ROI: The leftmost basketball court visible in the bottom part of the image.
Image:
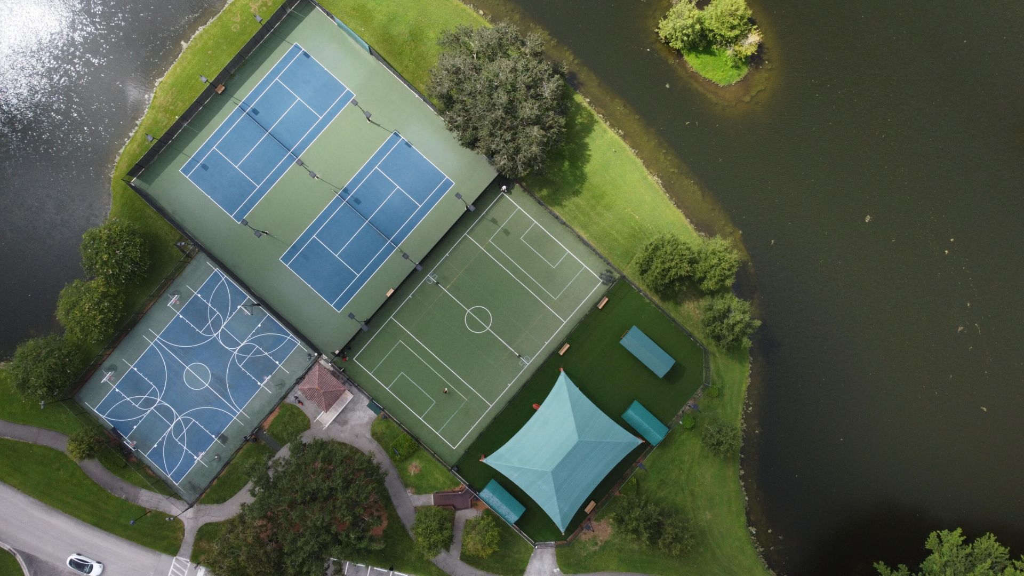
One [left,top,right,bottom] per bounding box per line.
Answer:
[75,251,315,504]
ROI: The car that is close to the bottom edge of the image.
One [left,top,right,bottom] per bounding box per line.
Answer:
[67,554,102,576]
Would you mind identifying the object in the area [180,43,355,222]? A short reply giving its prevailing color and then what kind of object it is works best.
blue tennis court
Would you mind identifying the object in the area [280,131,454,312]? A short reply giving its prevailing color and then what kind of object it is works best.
blue tennis court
